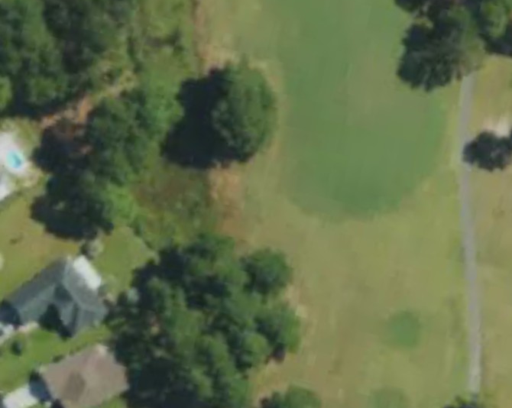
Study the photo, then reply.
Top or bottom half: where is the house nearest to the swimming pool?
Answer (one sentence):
The bottom half of the photo is where the house nearest to the swimming pool is.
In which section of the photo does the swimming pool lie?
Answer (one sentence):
Look in the left portion of the view to spot the swimming pool.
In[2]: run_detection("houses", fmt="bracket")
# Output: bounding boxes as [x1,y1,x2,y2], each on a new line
[39,340,130,408]
[0,255,110,342]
